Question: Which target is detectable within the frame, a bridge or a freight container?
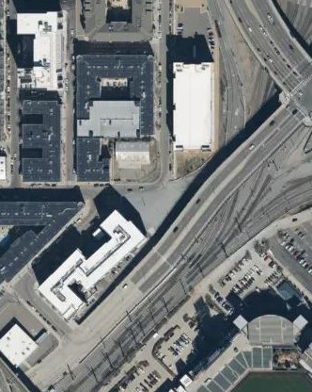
bridge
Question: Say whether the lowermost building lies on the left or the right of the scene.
left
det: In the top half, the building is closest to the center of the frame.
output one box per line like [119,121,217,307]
[116,141,150,168]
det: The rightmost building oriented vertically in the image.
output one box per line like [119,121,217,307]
[173,62,216,149]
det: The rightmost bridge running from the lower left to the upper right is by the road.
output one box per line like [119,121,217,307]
[77,104,305,340]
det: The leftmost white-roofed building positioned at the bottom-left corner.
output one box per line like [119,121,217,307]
[0,324,39,367]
